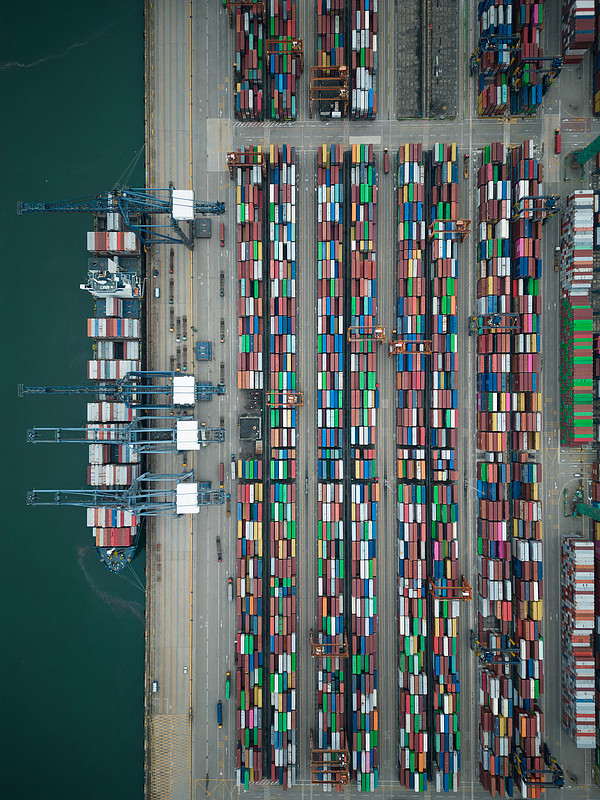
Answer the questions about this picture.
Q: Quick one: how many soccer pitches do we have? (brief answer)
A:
0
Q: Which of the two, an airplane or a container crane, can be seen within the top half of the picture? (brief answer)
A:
container crane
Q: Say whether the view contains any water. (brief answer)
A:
Yes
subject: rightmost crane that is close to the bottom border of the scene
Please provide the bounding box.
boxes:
[508,742,563,784]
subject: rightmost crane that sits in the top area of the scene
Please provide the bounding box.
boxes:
[565,129,600,181]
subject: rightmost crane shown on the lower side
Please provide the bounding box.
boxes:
[563,488,600,523]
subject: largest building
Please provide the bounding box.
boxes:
[243,415,263,440]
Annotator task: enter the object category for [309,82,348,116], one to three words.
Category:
container crane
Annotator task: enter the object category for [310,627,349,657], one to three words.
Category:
container crane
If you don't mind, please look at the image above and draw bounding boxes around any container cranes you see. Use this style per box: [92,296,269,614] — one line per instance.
[27,462,225,516]
[226,0,266,30]
[226,152,266,181]
[27,409,225,455]
[426,573,473,599]
[264,390,305,409]
[310,762,349,784]
[309,82,348,116]
[470,35,520,77]
[310,729,349,764]
[264,40,305,75]
[16,369,226,413]
[470,629,520,663]
[16,187,226,252]
[383,341,432,359]
[508,57,562,97]
[426,220,473,245]
[509,196,560,227]
[508,742,563,784]
[309,64,348,92]
[469,313,519,337]
[344,327,388,347]
[310,627,349,657]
